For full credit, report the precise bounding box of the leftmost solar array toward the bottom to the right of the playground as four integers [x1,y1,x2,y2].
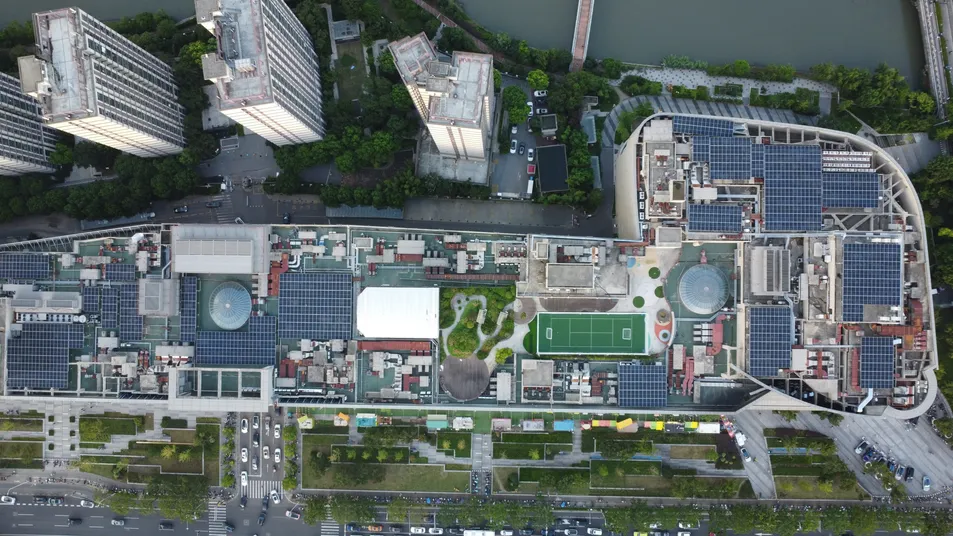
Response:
[750,307,790,376]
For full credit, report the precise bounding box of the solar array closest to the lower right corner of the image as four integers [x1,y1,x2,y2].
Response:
[859,338,893,388]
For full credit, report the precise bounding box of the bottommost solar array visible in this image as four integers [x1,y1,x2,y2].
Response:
[620,365,667,407]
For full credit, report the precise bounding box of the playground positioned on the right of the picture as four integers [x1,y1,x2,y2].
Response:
[611,247,682,356]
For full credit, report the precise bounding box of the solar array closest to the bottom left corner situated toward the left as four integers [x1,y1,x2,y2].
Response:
[7,324,86,388]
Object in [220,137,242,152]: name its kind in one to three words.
building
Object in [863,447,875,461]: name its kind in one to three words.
vehicle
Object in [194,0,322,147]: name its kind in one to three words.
building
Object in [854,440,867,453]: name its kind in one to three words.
vehicle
